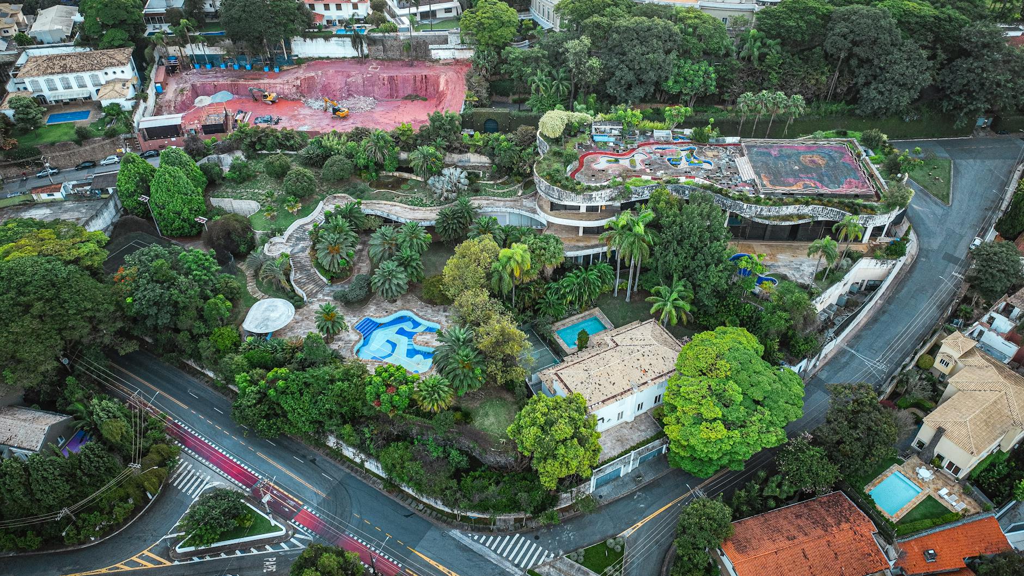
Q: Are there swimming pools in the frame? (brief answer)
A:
Yes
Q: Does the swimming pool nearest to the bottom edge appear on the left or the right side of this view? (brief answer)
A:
right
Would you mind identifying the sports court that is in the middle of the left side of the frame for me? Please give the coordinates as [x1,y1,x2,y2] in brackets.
[101,231,239,311]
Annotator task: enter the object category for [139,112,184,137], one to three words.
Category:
shed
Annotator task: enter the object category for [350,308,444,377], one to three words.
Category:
swimming pool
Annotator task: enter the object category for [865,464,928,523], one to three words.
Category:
swimming pool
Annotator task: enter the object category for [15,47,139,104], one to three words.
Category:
house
